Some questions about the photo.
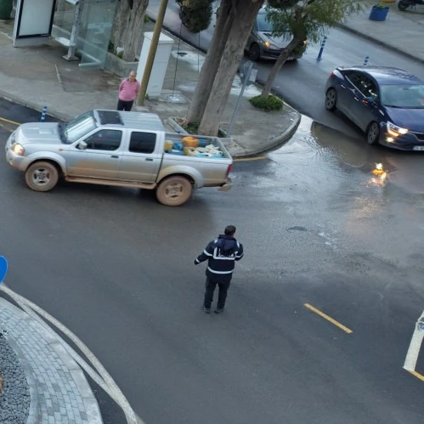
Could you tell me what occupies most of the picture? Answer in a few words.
paved ground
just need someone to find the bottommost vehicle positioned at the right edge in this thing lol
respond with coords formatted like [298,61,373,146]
[320,61,424,152]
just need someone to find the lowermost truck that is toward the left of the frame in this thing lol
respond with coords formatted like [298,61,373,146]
[7,106,242,205]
